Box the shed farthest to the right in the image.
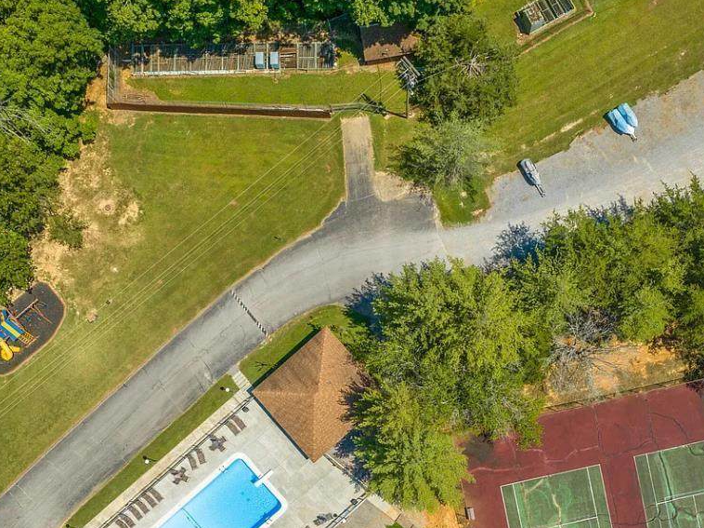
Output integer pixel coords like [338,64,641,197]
[360,17,422,73]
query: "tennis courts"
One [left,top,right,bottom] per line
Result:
[633,441,704,528]
[501,466,612,528]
